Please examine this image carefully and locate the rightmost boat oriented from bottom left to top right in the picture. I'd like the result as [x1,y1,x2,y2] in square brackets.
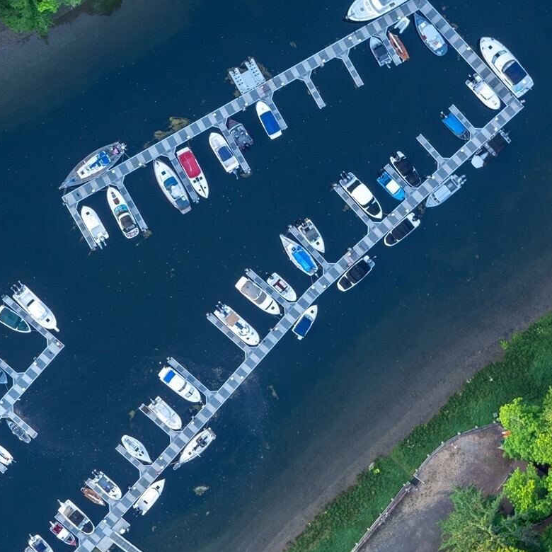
[471,132,511,168]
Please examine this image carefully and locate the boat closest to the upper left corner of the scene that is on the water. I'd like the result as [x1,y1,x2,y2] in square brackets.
[54,143,128,192]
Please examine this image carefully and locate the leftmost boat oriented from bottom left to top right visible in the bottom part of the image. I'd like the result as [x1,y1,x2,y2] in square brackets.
[131,479,165,517]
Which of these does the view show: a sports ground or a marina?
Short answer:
marina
